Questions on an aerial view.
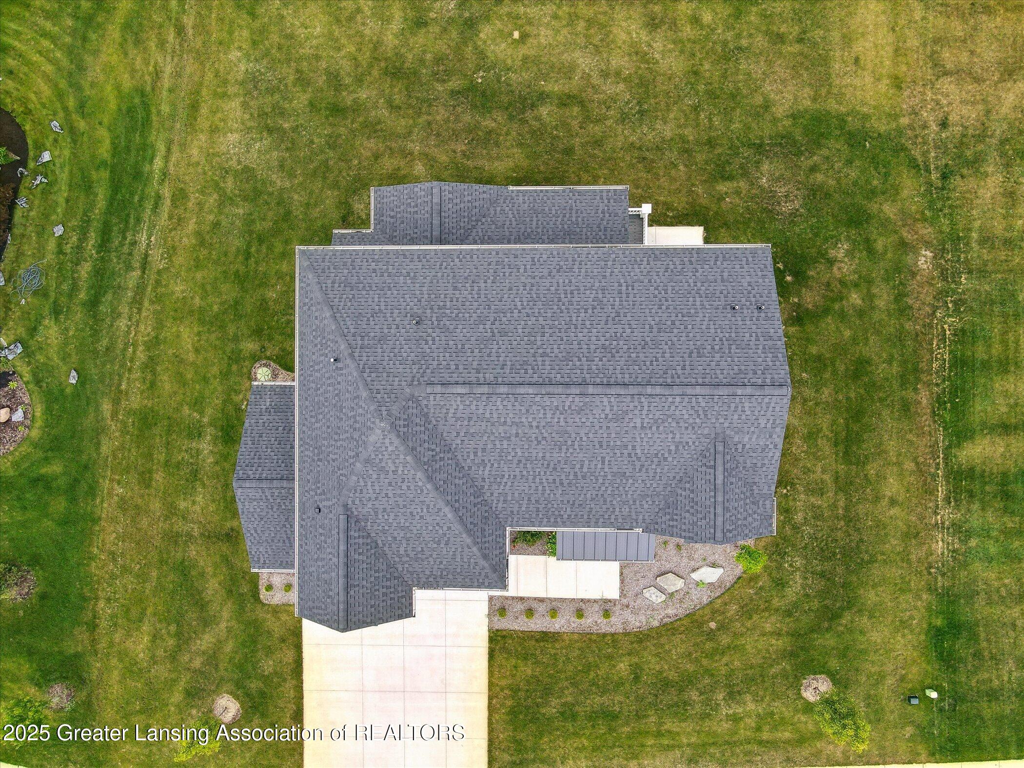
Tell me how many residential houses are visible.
one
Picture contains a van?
No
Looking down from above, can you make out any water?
No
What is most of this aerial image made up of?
grass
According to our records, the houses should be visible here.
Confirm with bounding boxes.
[234,182,791,631]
